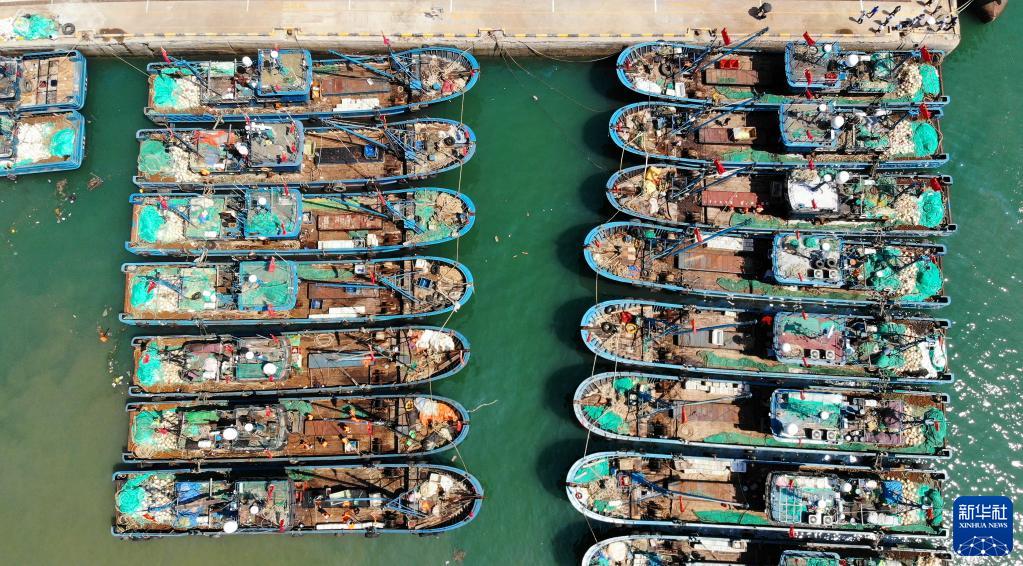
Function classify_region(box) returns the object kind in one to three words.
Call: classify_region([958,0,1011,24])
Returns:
ship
